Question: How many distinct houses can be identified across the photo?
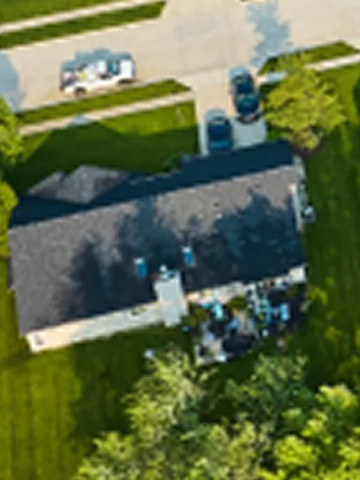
1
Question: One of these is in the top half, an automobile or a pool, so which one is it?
automobile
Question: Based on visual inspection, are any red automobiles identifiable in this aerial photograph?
No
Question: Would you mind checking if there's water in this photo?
No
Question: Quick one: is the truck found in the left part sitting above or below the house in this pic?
above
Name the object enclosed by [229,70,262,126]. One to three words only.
car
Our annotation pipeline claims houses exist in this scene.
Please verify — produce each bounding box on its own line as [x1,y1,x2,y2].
[6,124,316,352]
